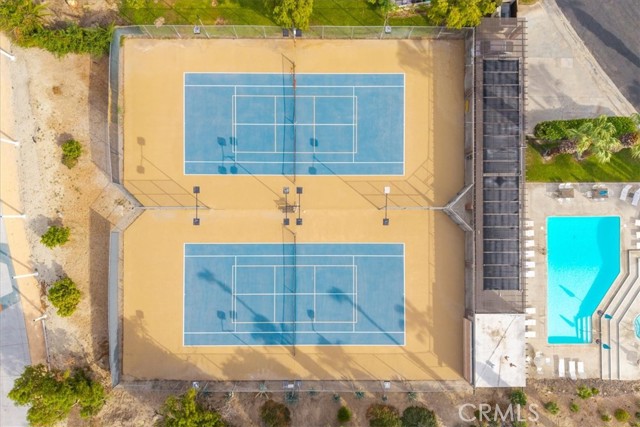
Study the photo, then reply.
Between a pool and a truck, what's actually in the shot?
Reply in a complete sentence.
It is a pool that can be seen here.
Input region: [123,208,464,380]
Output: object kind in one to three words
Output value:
tennis court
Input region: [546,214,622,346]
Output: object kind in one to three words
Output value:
swimming pool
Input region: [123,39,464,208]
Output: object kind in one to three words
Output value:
tennis court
